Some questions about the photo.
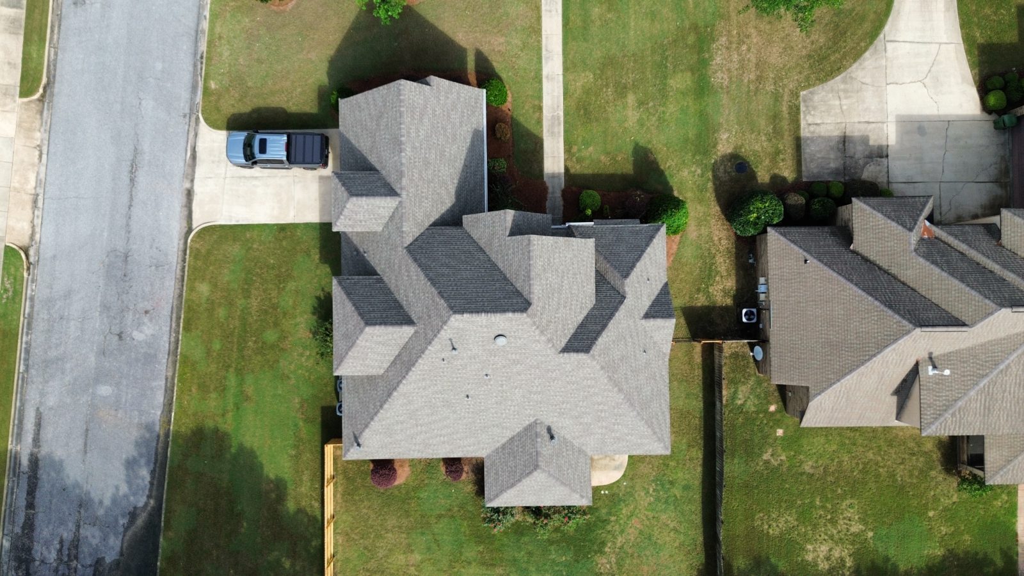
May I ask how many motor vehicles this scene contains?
1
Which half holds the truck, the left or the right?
left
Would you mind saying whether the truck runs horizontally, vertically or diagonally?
horizontally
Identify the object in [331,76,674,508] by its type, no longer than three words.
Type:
house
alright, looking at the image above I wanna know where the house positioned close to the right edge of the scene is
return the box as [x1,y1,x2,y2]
[759,109,1024,486]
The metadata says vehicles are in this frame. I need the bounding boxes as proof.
[226,127,333,170]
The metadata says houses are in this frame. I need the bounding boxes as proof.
[759,109,1024,486]
[331,76,674,508]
